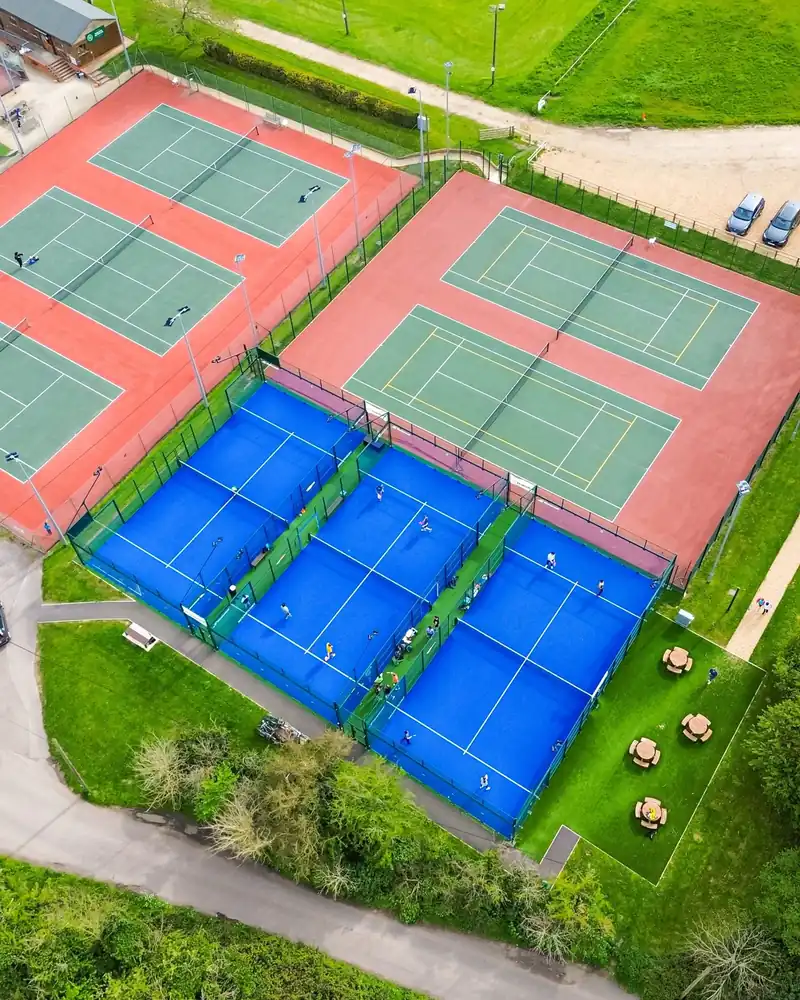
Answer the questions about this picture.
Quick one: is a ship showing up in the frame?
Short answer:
No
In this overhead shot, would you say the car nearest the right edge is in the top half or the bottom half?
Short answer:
top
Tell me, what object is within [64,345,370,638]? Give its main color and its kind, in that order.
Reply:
blue sports court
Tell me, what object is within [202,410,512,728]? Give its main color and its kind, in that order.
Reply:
blue sports court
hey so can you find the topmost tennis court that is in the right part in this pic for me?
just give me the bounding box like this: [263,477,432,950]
[441,206,758,391]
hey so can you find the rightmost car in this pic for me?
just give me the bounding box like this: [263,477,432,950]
[765,199,800,244]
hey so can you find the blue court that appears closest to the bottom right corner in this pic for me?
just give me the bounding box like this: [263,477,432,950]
[360,483,678,846]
